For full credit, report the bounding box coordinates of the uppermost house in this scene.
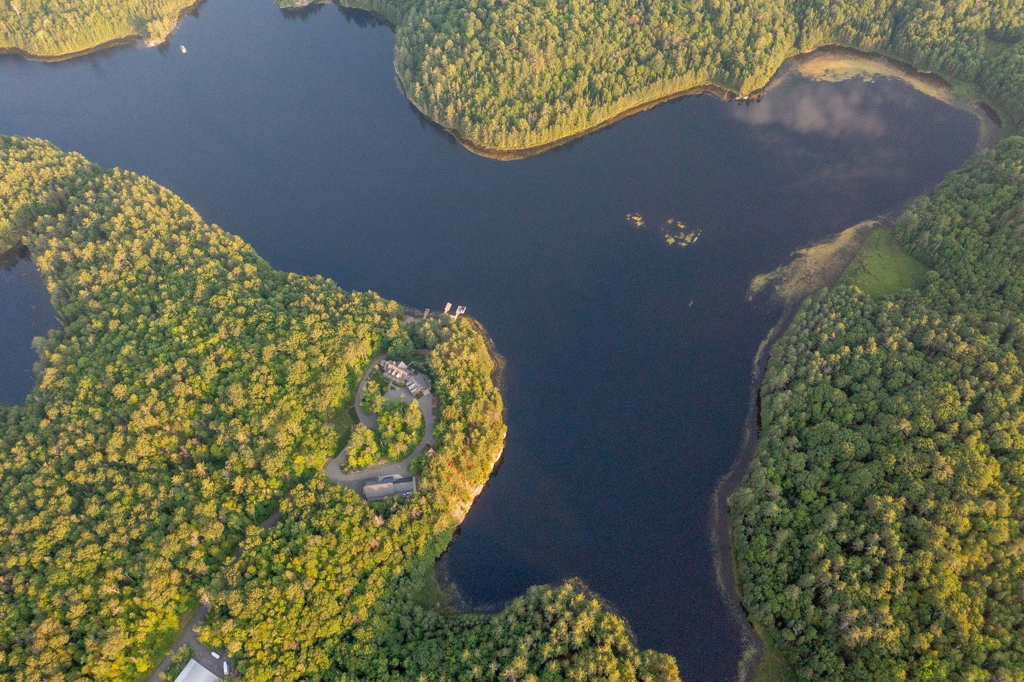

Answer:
[378,362,430,400]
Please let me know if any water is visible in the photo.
Yes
